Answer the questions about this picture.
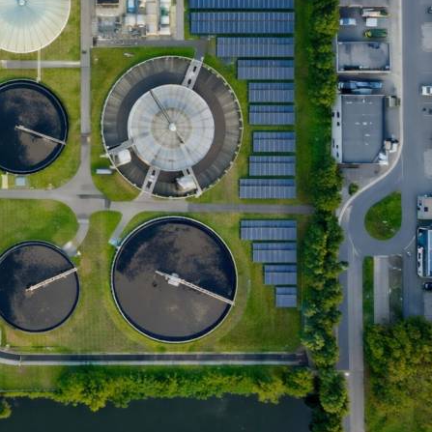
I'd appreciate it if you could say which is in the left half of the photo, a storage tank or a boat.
storage tank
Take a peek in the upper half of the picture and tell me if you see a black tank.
Yes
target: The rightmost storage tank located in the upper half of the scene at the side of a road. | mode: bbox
[101,55,244,199]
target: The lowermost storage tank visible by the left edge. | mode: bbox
[0,241,80,333]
